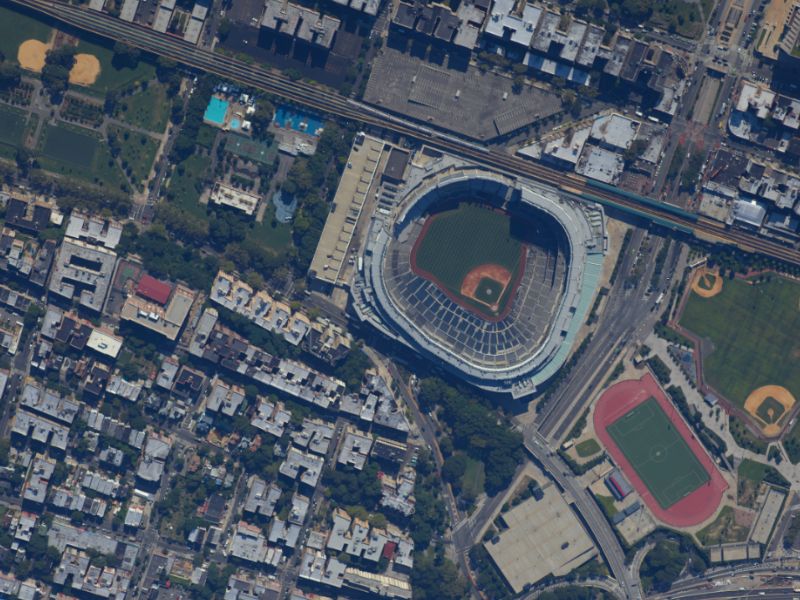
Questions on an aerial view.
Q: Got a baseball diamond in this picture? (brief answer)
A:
Yes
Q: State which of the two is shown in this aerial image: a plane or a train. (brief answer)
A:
train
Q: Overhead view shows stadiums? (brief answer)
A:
Yes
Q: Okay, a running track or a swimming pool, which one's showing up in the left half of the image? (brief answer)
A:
swimming pool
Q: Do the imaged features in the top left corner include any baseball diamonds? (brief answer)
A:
Yes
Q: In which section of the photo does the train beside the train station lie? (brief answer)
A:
top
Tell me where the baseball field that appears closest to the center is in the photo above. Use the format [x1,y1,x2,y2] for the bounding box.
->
[411,202,526,322]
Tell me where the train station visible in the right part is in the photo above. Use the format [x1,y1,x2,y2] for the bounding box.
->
[559,166,759,252]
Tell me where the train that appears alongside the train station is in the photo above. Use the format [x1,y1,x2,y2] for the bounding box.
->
[346,99,491,152]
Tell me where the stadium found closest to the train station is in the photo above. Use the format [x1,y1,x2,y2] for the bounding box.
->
[350,144,604,398]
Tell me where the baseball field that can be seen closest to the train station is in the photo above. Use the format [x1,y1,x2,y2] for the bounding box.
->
[692,267,723,298]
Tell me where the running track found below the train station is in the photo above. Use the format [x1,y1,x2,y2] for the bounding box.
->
[594,373,729,518]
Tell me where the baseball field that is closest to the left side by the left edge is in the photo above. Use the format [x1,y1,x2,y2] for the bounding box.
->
[18,39,48,73]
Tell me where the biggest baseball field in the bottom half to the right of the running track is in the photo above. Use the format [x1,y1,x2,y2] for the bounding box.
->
[744,385,797,438]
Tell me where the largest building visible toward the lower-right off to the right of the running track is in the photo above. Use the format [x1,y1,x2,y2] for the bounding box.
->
[751,488,786,545]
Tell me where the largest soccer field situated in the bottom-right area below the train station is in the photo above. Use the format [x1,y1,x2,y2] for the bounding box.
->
[608,397,710,509]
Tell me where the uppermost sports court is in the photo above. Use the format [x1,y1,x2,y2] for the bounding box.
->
[224,135,278,162]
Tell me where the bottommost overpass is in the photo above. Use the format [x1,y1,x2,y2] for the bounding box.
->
[513,427,630,600]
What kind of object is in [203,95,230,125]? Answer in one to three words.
swimming pool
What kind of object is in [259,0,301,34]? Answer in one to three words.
building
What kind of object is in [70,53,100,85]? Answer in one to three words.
baseball field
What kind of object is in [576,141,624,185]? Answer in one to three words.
building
